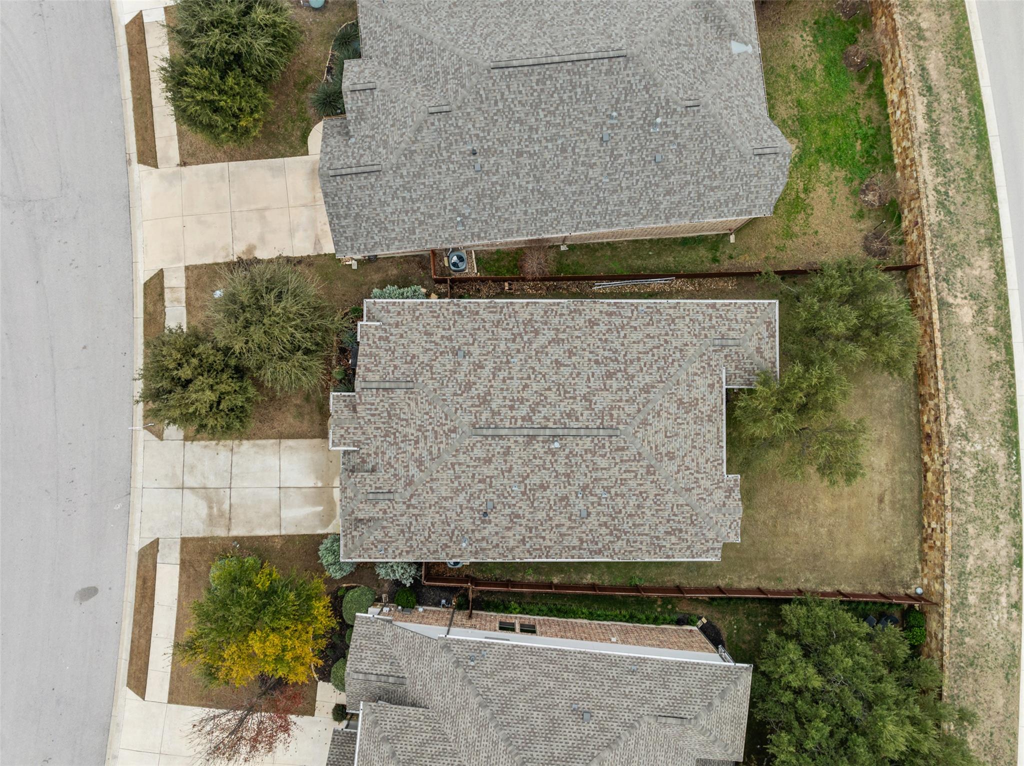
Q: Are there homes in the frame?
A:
Yes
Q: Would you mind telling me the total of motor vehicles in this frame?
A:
0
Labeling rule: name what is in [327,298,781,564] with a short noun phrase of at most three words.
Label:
house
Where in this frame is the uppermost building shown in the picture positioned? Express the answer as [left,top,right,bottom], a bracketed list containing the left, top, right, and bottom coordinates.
[319,0,792,264]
